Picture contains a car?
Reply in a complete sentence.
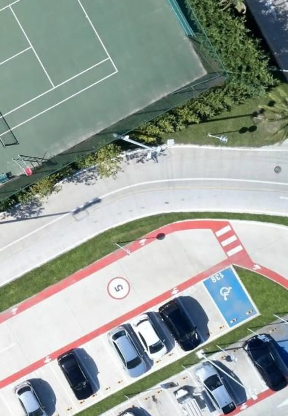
Yes, the frame does contain a car.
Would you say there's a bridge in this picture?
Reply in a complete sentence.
No, I can see no bridge in this picture.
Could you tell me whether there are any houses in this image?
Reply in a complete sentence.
No, there isn't any house down there.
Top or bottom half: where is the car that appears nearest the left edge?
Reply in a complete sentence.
It is in the bottom half that the car that appears nearest the left edge appears.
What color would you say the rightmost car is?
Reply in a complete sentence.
The rightmost car is black.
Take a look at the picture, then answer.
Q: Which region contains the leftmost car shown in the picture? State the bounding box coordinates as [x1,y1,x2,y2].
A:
[12,377,48,416]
